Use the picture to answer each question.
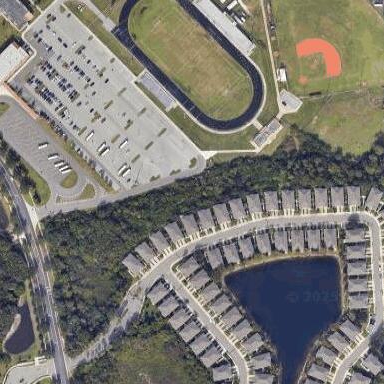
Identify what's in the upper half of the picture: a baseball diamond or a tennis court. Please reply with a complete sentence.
What appears in the upper half of the picture is a baseball diamond.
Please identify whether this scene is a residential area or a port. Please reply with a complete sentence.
The picture captures a residential area.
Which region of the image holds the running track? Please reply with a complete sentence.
The running track is located in the top region of the scene.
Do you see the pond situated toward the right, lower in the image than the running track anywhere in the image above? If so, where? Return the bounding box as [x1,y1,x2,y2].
[223,255,342,384]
